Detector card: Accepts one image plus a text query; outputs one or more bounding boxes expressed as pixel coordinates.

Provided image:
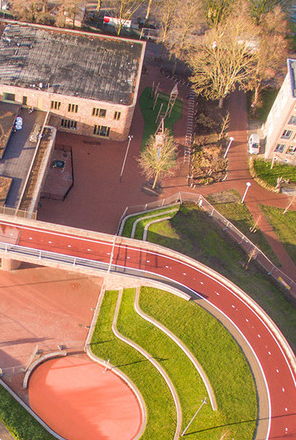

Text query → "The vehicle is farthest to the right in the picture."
[249,134,263,152]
